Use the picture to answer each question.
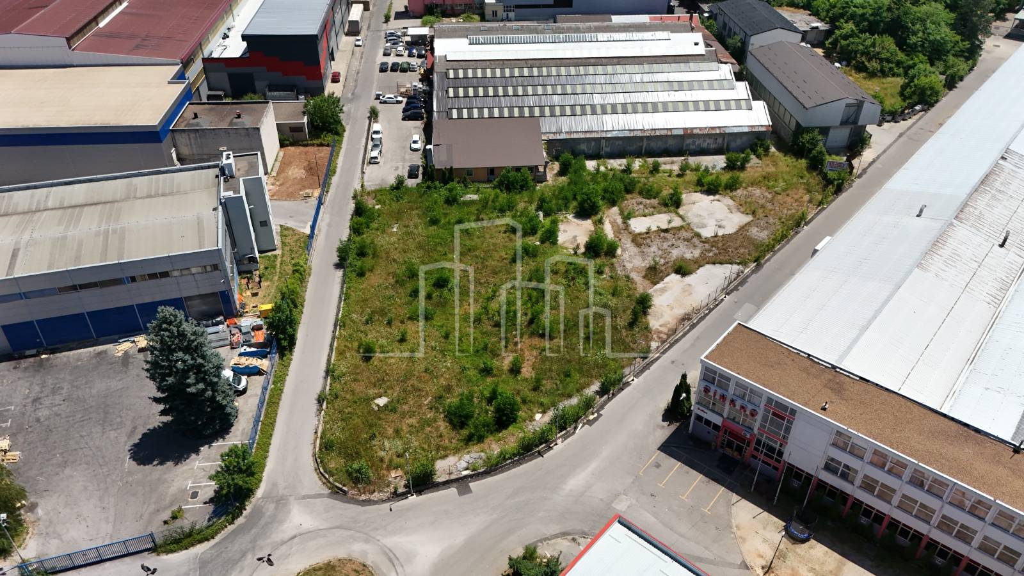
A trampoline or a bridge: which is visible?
trampoline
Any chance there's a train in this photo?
No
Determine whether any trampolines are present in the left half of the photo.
No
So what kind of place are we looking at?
industrial area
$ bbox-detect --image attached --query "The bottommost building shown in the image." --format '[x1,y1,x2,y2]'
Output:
[565,515,716,576]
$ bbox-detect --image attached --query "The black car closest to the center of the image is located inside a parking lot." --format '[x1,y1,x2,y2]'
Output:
[406,164,420,178]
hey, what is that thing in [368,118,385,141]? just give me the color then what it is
white vehicle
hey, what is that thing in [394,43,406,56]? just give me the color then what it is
white vehicle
